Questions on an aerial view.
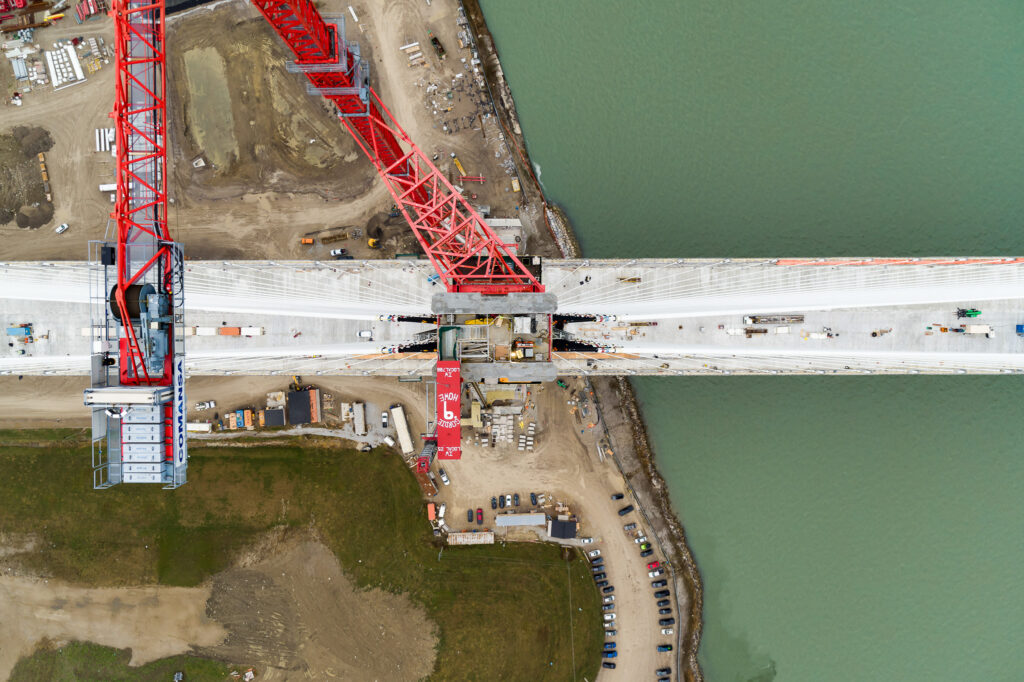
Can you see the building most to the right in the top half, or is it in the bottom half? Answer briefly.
bottom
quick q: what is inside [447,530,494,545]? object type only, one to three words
building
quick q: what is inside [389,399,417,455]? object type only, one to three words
trailer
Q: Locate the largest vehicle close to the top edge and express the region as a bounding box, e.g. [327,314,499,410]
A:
[427,30,449,62]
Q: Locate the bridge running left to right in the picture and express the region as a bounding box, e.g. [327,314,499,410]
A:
[0,242,1024,392]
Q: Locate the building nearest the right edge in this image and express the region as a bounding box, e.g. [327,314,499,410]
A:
[550,517,576,538]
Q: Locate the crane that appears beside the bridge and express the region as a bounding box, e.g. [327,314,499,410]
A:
[84,0,545,489]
